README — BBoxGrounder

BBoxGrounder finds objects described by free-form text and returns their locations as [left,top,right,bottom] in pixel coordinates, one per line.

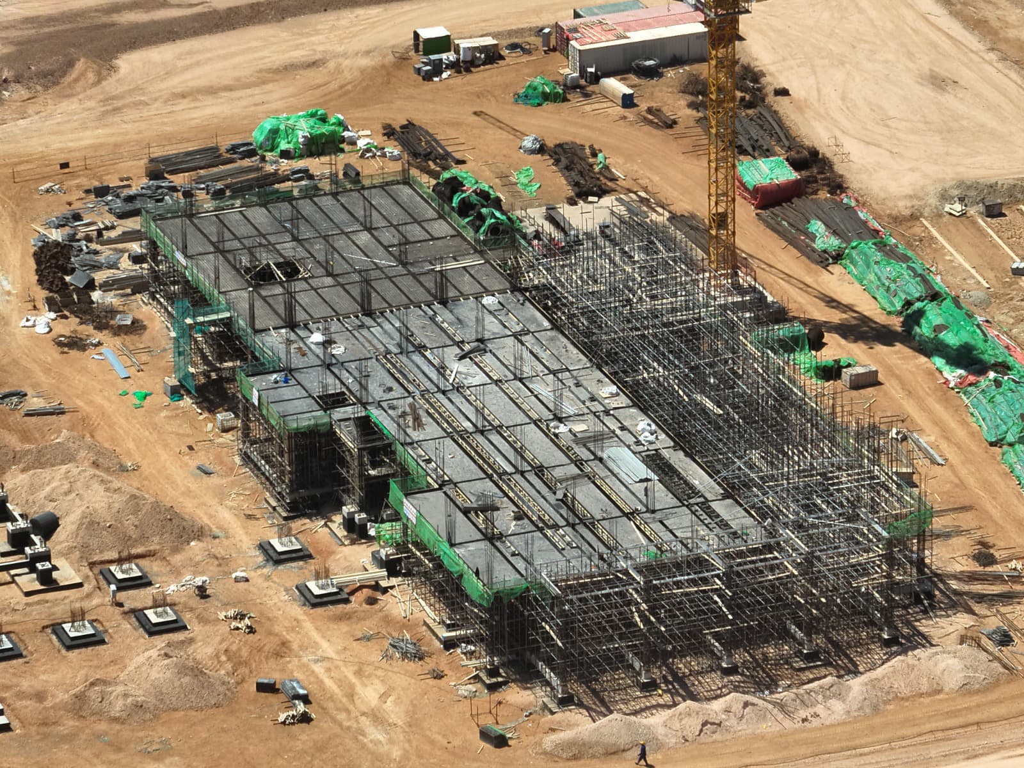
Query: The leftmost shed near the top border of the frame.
[412,26,452,56]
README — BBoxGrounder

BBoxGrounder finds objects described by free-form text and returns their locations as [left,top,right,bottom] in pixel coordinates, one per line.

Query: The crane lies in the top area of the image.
[686,0,765,296]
